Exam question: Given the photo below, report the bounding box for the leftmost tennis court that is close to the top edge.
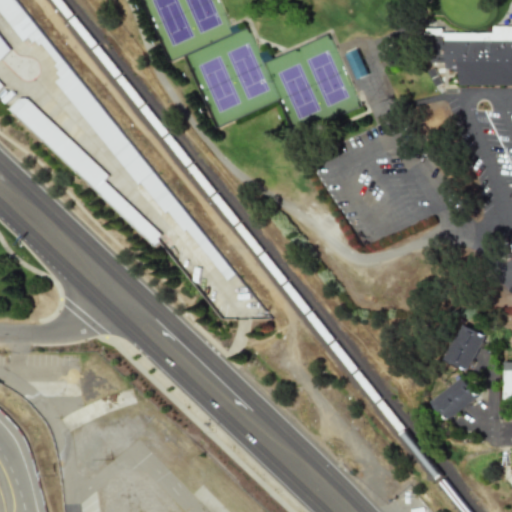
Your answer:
[147,0,198,60]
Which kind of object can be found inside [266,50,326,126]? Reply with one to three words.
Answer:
tennis court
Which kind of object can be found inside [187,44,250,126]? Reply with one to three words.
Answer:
tennis court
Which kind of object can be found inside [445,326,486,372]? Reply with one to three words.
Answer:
house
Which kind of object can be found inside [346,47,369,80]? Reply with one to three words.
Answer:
building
